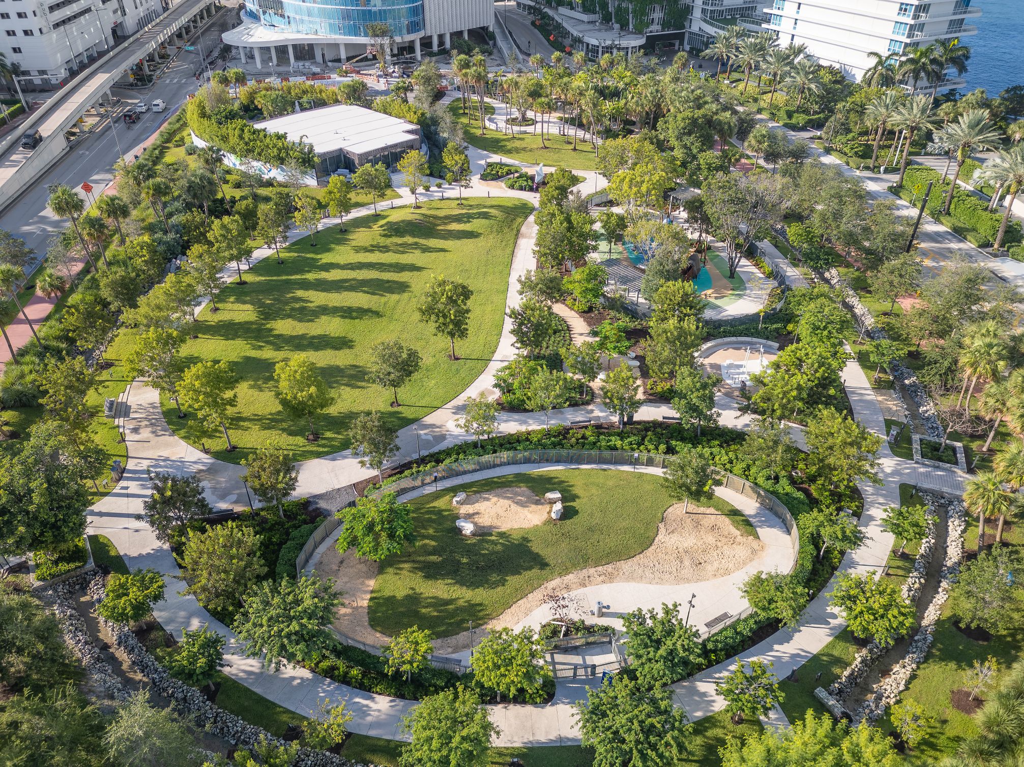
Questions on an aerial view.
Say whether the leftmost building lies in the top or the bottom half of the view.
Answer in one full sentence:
You can find the leftmost building in the top half.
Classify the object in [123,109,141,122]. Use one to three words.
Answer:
vehicle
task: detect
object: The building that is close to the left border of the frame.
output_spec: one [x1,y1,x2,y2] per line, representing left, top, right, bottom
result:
[0,0,160,86]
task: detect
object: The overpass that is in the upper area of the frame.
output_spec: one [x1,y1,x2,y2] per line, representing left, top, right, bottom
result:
[0,0,232,217]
